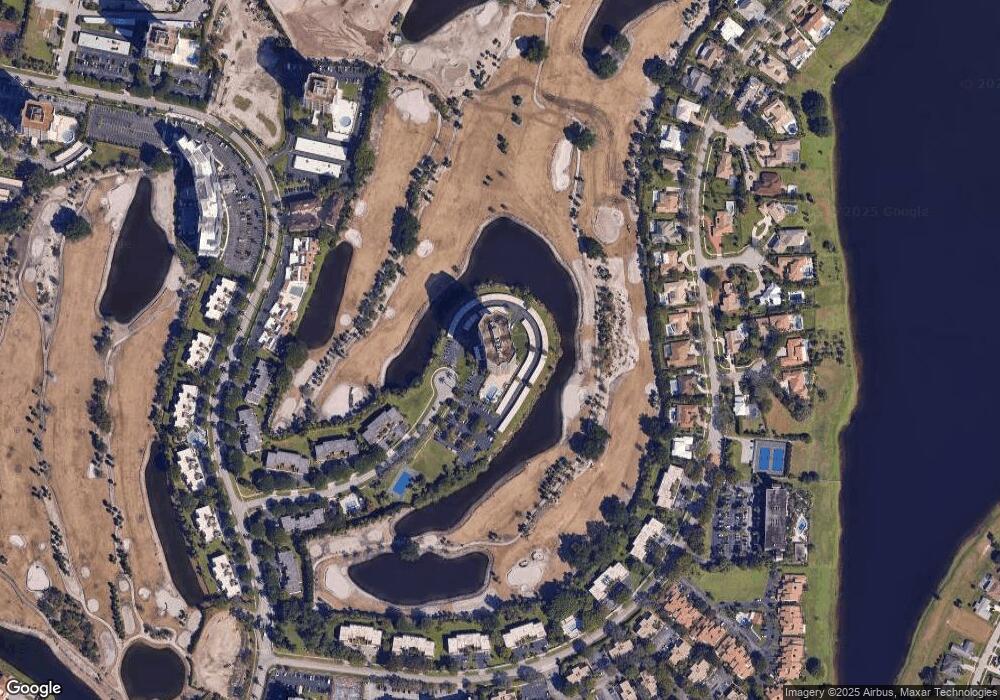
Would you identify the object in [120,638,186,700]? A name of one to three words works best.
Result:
pond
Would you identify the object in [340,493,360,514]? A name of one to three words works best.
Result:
swimming pool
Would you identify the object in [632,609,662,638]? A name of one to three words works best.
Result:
house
